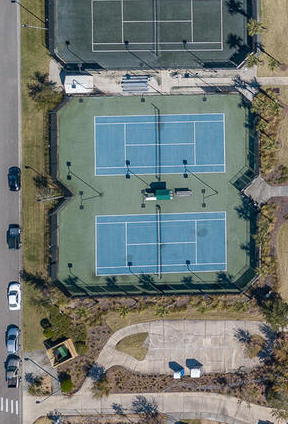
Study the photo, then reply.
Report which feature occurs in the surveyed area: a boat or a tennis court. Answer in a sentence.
It is a tennis court that can be seen here.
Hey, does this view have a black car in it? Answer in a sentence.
Yes, you can see a black car in this photo.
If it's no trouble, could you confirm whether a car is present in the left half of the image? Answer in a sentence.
Yes, a car appears in the left half of the image.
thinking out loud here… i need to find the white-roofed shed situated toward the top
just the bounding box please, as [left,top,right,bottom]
[64,75,101,93]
